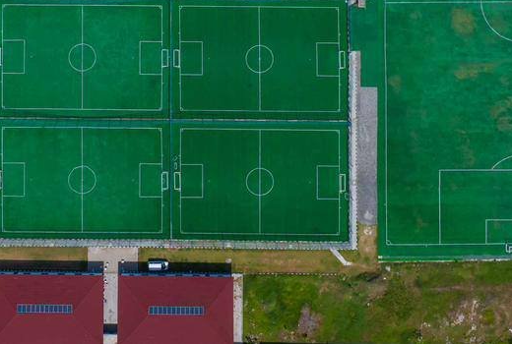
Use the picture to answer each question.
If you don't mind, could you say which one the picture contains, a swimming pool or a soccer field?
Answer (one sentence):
Looking from above, you can make out a soccer field.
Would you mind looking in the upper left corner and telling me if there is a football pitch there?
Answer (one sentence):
Yes, a football pitch appears in the upper left corner.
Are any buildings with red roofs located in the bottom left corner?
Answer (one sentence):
Yes, a building with a red roof can be seen in the bottom left corner.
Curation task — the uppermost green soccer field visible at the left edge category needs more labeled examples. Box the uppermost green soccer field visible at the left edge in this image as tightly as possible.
[0,0,169,120]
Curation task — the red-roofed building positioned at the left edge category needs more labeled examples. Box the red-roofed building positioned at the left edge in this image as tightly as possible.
[0,271,104,344]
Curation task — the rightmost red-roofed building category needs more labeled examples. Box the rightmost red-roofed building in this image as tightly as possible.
[118,272,233,344]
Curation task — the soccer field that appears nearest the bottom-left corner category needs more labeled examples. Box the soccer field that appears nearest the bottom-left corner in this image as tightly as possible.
[0,121,169,239]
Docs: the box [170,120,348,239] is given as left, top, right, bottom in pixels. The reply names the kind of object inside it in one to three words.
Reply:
soccer field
